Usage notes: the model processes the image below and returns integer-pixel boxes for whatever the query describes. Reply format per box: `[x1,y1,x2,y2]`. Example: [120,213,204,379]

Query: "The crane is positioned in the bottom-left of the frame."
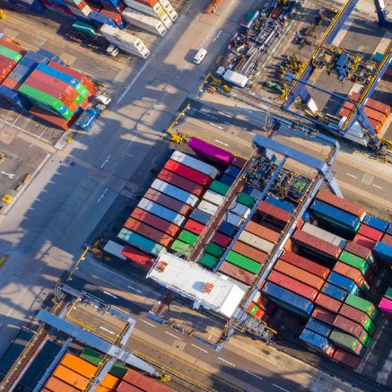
[0,280,159,392]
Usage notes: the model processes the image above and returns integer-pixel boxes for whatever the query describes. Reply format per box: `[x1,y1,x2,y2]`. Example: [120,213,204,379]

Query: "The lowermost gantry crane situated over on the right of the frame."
[136,112,351,354]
